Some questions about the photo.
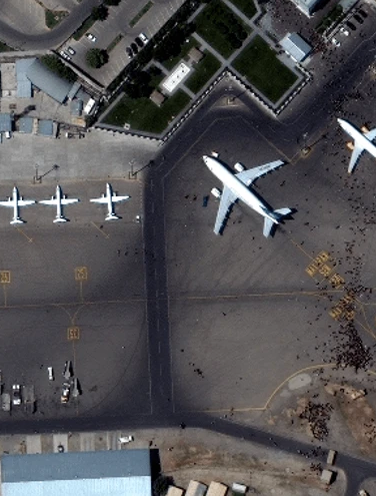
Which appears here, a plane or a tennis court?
plane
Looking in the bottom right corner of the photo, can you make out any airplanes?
No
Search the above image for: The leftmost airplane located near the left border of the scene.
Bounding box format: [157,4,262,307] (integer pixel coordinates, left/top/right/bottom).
[0,187,35,221]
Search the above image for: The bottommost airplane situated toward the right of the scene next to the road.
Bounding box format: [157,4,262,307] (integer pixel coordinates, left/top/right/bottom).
[203,155,293,237]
